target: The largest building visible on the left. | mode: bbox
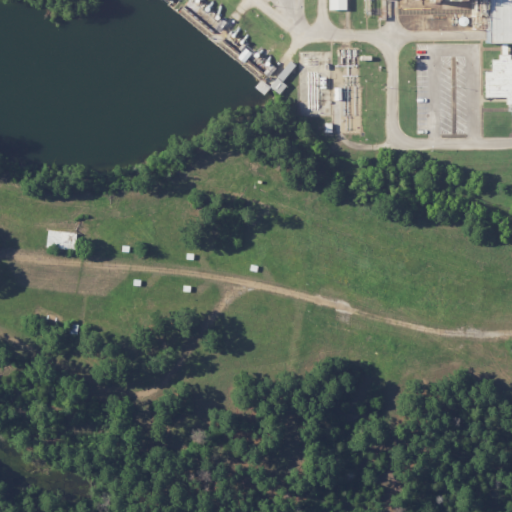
[46,230,76,250]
